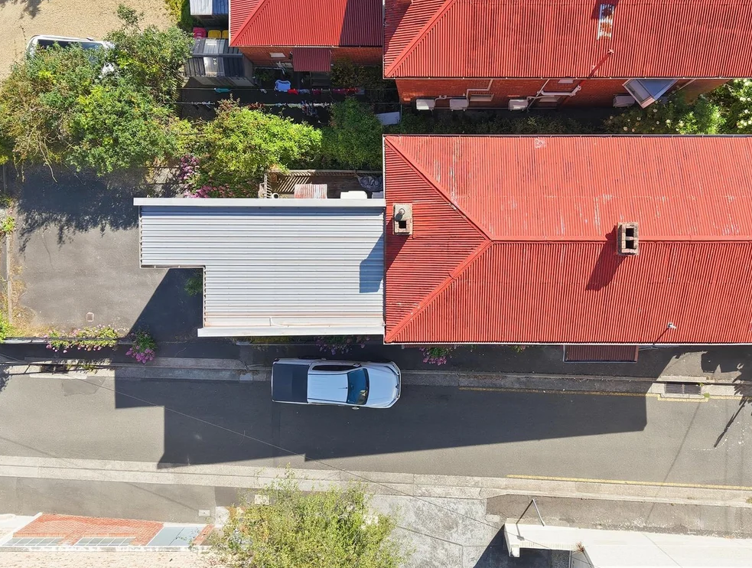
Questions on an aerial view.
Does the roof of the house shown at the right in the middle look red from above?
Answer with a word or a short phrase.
Yes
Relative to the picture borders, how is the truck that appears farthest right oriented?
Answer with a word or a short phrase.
horizontally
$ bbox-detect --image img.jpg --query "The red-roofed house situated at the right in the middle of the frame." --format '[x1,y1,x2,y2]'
[383,133,752,367]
